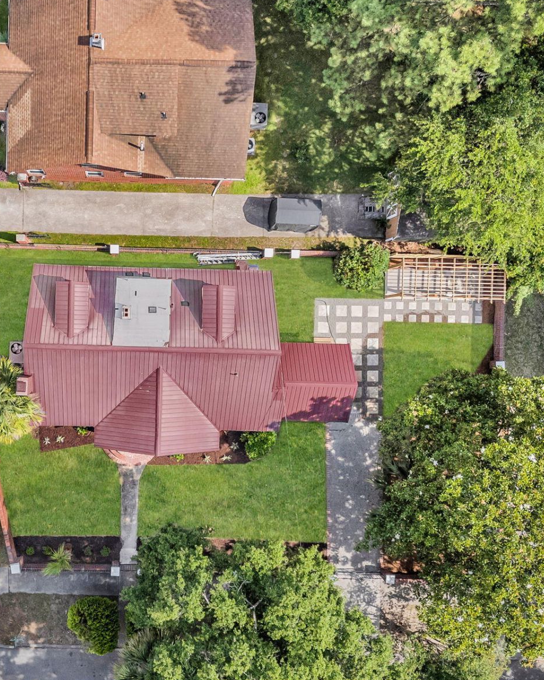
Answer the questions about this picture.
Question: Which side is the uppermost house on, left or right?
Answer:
left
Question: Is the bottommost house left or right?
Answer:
left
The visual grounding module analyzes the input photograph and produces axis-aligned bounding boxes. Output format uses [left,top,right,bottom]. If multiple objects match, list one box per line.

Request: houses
[15,263,358,466]
[0,0,257,198]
